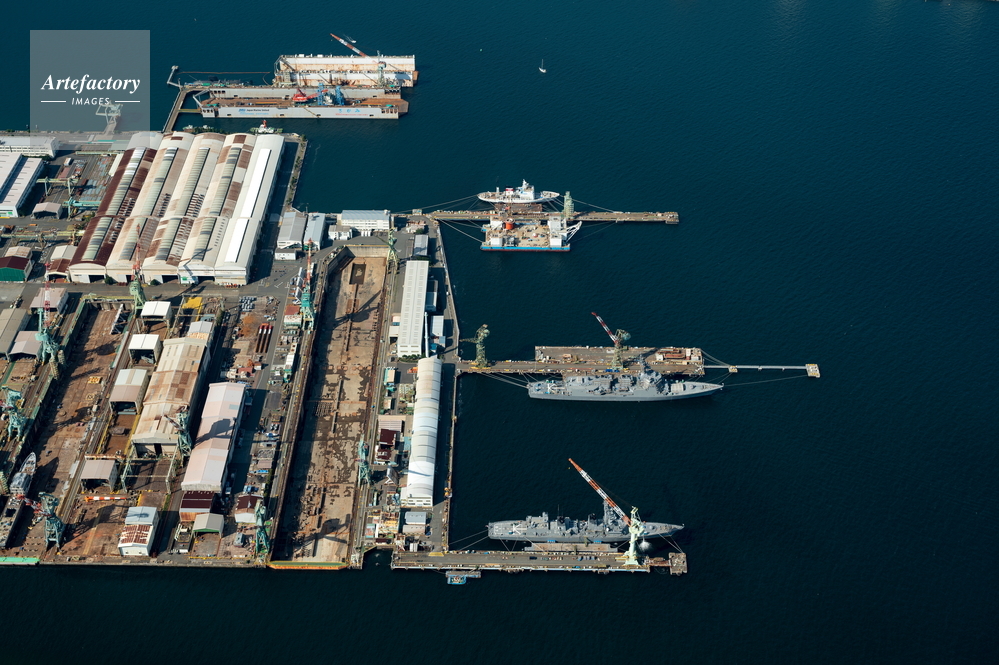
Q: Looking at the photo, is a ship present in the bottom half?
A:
Yes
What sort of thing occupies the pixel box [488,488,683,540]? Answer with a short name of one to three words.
ship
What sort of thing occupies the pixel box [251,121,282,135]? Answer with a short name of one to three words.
boat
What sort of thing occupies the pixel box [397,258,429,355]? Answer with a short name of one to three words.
building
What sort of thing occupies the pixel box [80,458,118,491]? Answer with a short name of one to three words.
shed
